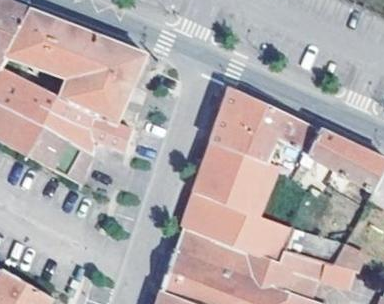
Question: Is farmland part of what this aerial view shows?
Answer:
No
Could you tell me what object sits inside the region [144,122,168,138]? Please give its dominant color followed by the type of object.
white vehicle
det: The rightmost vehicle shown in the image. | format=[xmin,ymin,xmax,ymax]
[348,10,360,31]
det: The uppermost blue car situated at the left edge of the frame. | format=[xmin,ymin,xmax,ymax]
[8,161,24,186]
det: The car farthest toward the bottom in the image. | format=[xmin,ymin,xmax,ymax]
[66,279,78,298]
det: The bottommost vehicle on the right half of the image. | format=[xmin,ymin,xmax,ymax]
[322,62,336,78]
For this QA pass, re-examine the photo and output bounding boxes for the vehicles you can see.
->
[20,247,36,272]
[300,43,318,72]
[76,197,91,219]
[144,122,168,138]
[90,170,114,185]
[62,190,77,214]
[72,264,84,282]
[44,177,58,198]
[42,257,56,281]
[66,279,78,298]
[322,62,336,78]
[6,242,23,268]
[134,145,158,158]
[21,169,35,190]
[348,10,360,31]
[8,161,24,186]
